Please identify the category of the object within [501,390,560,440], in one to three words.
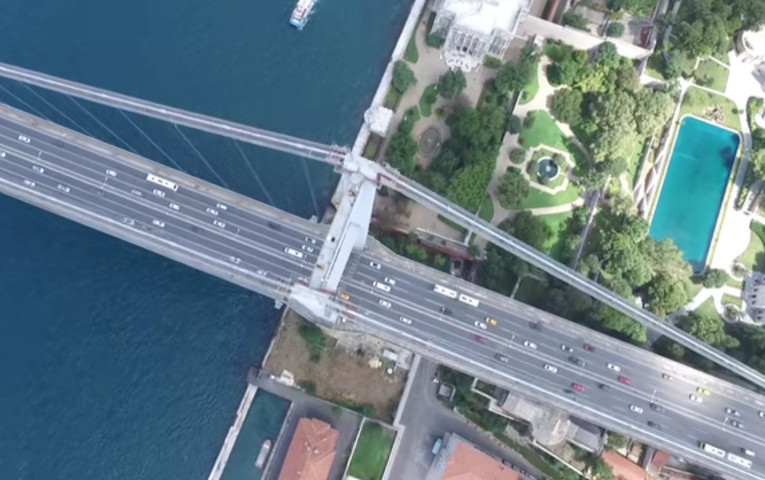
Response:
building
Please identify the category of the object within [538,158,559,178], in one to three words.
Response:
fountain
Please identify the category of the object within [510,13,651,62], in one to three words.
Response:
building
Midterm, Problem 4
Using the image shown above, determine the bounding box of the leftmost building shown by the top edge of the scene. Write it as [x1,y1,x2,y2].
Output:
[433,0,521,76]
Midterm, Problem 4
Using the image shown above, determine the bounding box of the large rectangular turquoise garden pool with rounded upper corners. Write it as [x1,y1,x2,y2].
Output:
[648,113,744,278]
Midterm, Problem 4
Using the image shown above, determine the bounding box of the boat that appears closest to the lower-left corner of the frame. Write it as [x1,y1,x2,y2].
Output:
[255,439,270,469]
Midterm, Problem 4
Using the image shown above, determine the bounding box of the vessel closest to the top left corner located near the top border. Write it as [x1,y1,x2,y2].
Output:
[296,0,318,24]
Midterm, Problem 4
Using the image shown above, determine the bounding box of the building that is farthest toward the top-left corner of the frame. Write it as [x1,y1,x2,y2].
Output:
[365,107,391,137]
